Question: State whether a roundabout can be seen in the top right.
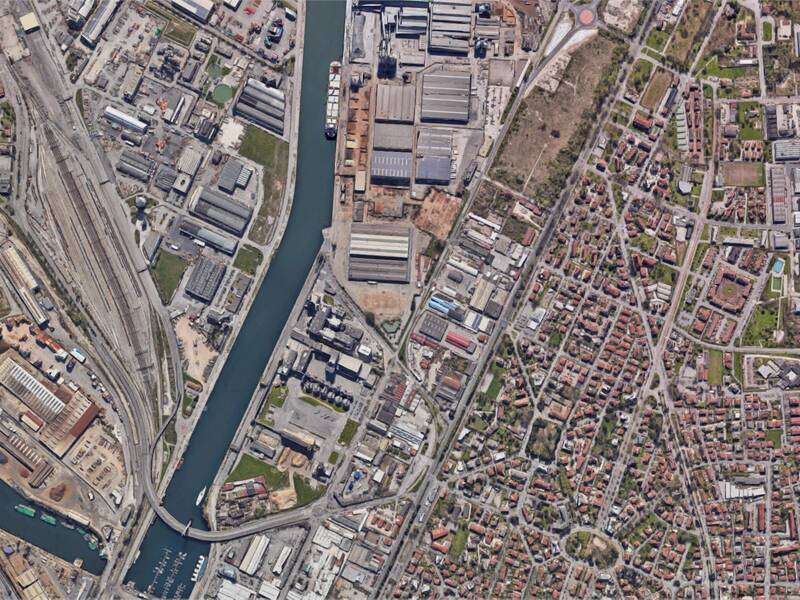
Yes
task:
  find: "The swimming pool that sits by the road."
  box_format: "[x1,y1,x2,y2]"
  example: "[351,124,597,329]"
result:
[772,257,786,277]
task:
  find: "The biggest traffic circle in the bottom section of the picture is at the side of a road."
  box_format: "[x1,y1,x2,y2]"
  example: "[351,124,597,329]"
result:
[561,526,623,573]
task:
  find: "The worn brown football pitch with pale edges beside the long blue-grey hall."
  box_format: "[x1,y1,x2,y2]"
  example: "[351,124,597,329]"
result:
[641,66,673,109]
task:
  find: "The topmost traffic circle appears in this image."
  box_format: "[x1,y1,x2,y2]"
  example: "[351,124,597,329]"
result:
[560,0,635,51]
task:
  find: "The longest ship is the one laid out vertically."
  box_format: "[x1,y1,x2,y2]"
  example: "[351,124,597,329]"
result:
[324,61,341,138]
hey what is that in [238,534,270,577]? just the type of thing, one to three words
building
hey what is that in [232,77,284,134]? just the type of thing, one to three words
building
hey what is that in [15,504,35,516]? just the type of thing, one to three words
ship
